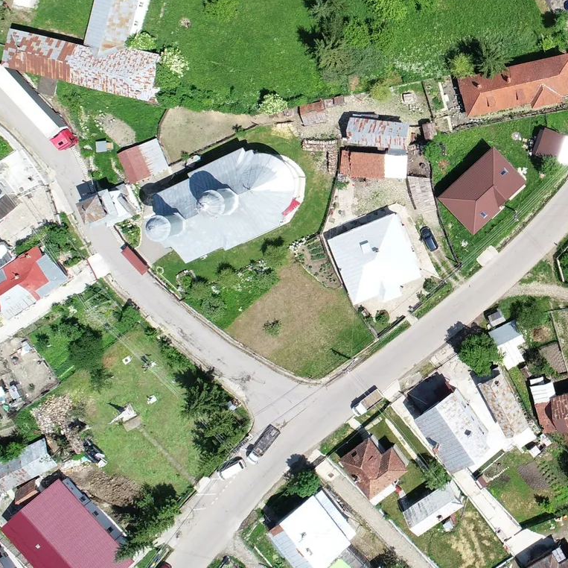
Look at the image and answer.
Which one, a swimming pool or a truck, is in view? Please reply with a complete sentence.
I can see a truck in this picture.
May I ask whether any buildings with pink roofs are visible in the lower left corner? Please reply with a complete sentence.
Yes, a building with a pink roof is visible in the lower left corner.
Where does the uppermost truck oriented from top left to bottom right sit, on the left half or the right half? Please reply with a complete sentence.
The uppermost truck oriented from top left to bottom right appears in the left half of the scene.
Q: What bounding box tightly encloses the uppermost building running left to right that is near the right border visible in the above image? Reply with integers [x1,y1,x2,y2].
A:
[457,55,568,118]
